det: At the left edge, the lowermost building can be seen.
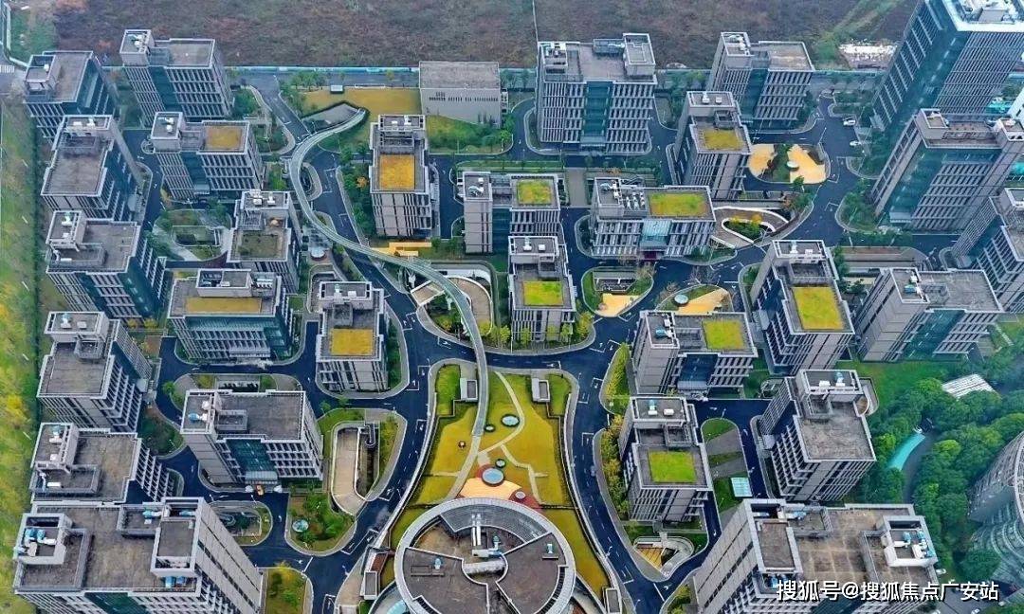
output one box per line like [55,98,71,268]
[15,497,260,614]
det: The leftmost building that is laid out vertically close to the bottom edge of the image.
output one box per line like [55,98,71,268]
[364,572,379,602]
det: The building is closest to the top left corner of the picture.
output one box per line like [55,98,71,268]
[24,51,117,145]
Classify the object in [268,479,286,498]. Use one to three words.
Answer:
car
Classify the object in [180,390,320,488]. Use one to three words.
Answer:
building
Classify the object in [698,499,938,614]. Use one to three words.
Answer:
building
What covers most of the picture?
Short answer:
buildings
